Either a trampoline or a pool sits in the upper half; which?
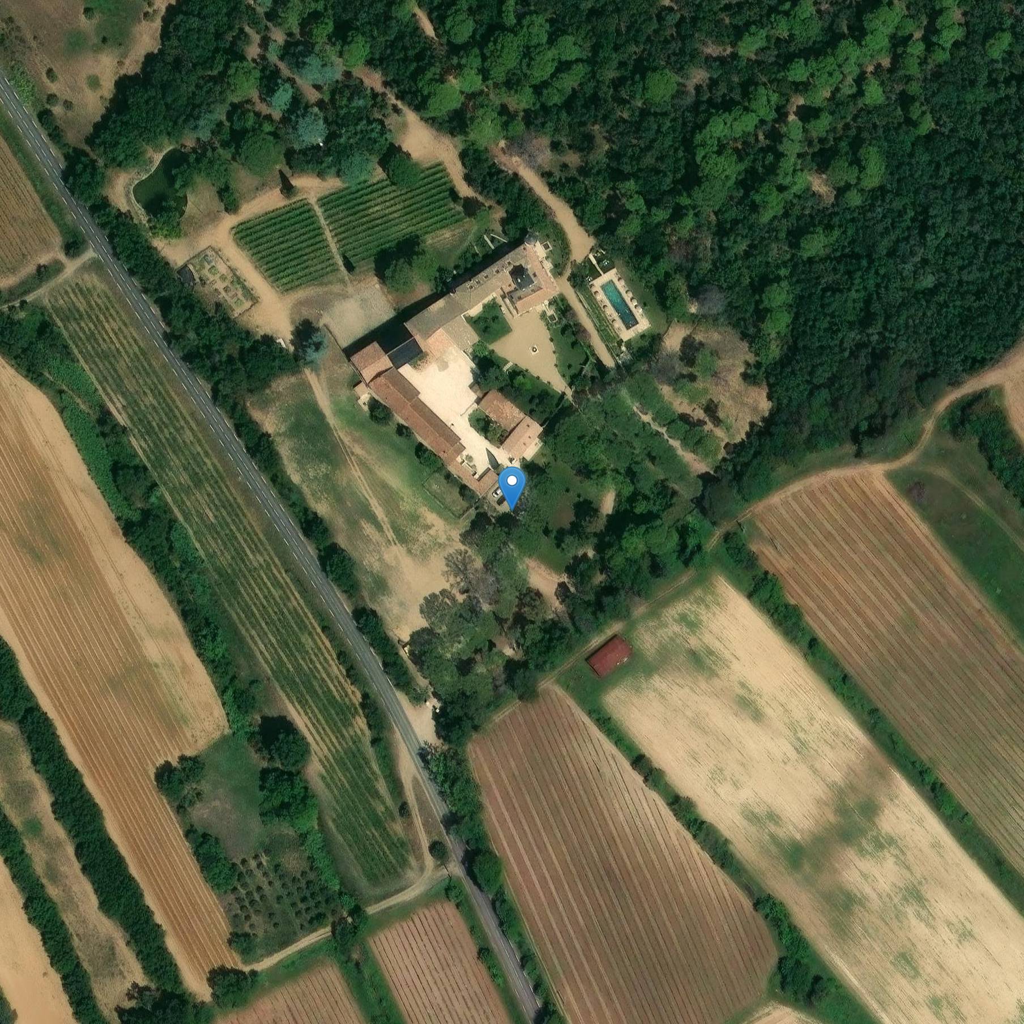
pool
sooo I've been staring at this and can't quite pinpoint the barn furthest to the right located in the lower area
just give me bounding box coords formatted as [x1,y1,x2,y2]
[589,636,632,677]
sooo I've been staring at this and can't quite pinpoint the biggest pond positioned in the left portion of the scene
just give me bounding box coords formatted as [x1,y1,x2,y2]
[134,148,189,220]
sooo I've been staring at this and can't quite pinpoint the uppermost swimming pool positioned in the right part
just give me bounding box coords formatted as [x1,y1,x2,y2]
[589,269,651,339]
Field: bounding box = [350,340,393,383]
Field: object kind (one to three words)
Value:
house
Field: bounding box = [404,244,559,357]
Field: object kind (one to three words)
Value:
house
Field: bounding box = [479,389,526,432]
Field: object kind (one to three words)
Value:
barn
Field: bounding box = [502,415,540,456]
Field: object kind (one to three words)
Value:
building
